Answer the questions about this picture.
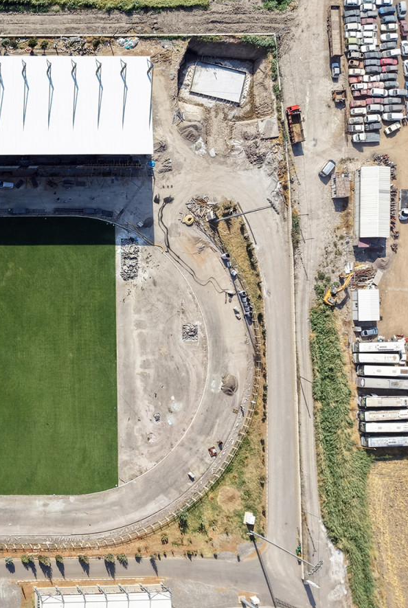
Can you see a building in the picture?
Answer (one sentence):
Yes, there's a building down there.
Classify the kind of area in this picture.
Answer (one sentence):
It's a sports ground.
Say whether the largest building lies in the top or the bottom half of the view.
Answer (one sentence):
The largest building is in the top half of the image.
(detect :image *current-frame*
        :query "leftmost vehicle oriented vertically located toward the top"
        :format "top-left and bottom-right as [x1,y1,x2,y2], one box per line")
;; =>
[285,105,305,144]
